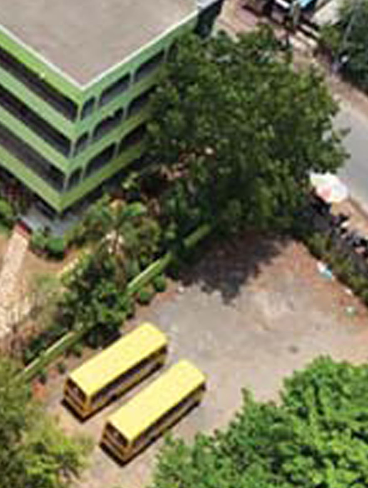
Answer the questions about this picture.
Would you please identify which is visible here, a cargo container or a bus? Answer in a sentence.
There is a bus in the scene.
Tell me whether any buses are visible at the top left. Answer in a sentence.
No, I see no bus at the top left.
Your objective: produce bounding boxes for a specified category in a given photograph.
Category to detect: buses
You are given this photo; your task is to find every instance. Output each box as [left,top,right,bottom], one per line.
[59,323,168,421]
[95,359,208,459]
